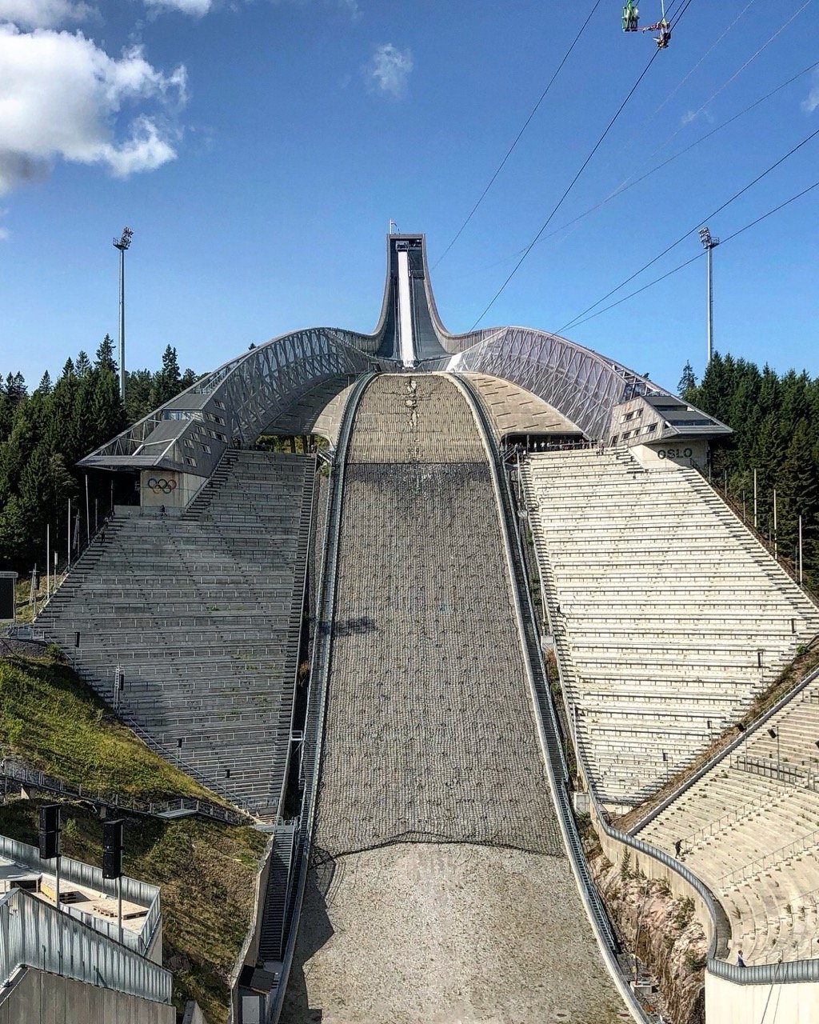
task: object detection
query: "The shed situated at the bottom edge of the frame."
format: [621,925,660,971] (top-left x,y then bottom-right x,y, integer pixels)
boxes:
[238,968,271,1024]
